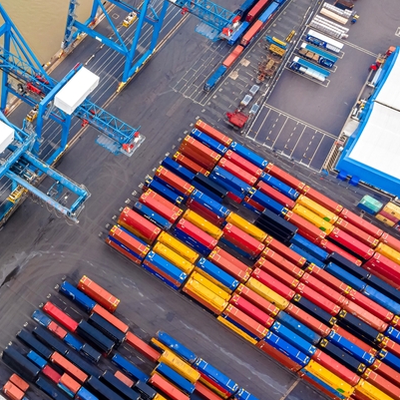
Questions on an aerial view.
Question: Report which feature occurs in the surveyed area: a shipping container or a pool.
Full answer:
I can see a shipping container in this picture.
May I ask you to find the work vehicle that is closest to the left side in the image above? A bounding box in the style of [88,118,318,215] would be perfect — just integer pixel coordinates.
[220,104,245,130]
